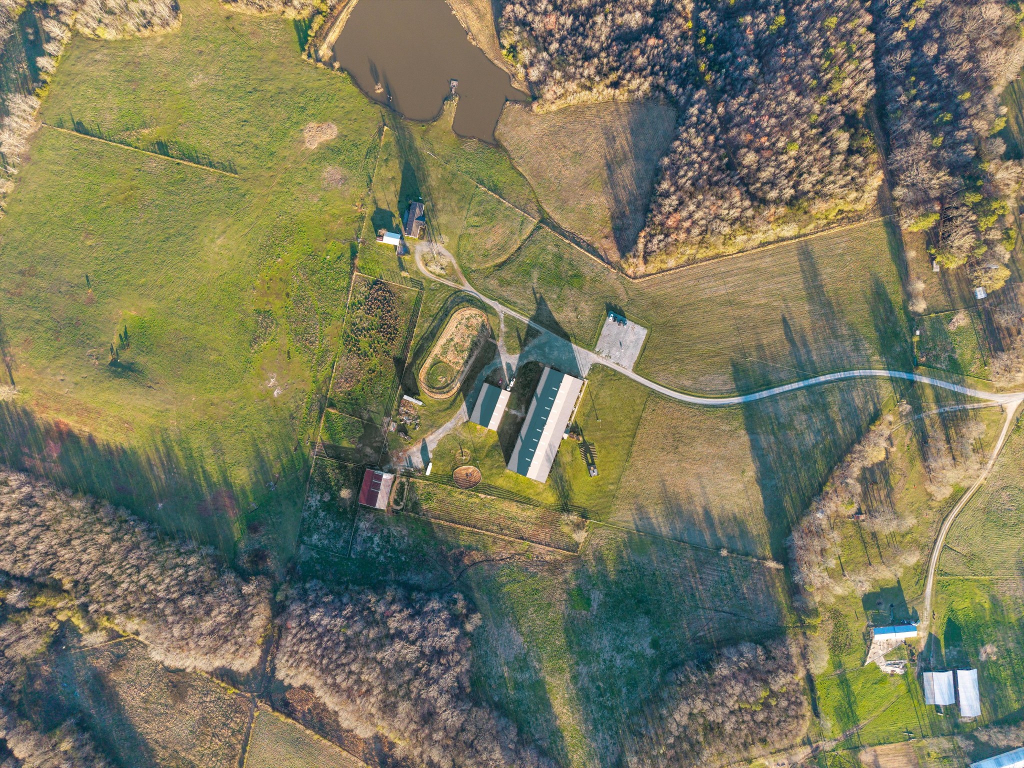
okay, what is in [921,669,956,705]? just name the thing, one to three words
shed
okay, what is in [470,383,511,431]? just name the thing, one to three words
barn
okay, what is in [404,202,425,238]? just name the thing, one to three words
house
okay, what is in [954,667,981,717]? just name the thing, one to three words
shed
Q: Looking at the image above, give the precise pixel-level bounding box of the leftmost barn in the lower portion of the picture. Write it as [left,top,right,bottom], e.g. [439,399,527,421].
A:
[359,469,394,509]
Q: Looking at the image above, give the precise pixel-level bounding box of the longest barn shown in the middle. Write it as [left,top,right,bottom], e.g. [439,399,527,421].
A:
[507,367,584,483]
